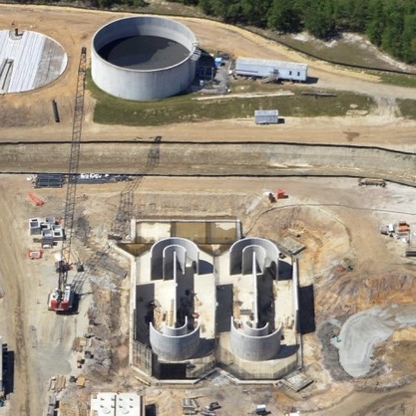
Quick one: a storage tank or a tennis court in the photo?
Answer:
storage tank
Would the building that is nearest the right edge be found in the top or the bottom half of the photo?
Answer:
top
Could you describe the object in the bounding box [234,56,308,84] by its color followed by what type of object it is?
white trailer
